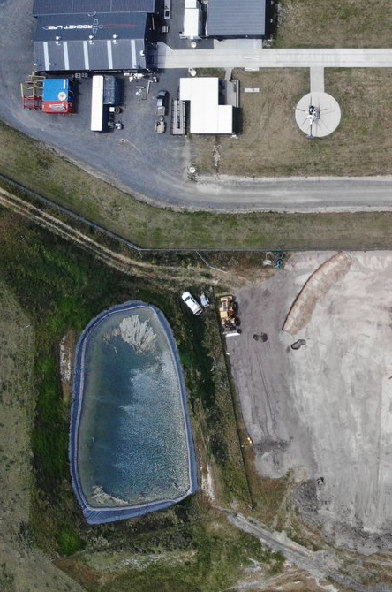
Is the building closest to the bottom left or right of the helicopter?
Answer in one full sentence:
From the viewer's perspective, the building closest to the bottom falls to the left of the helicopter.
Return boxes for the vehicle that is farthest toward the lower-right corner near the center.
[221,295,239,333]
